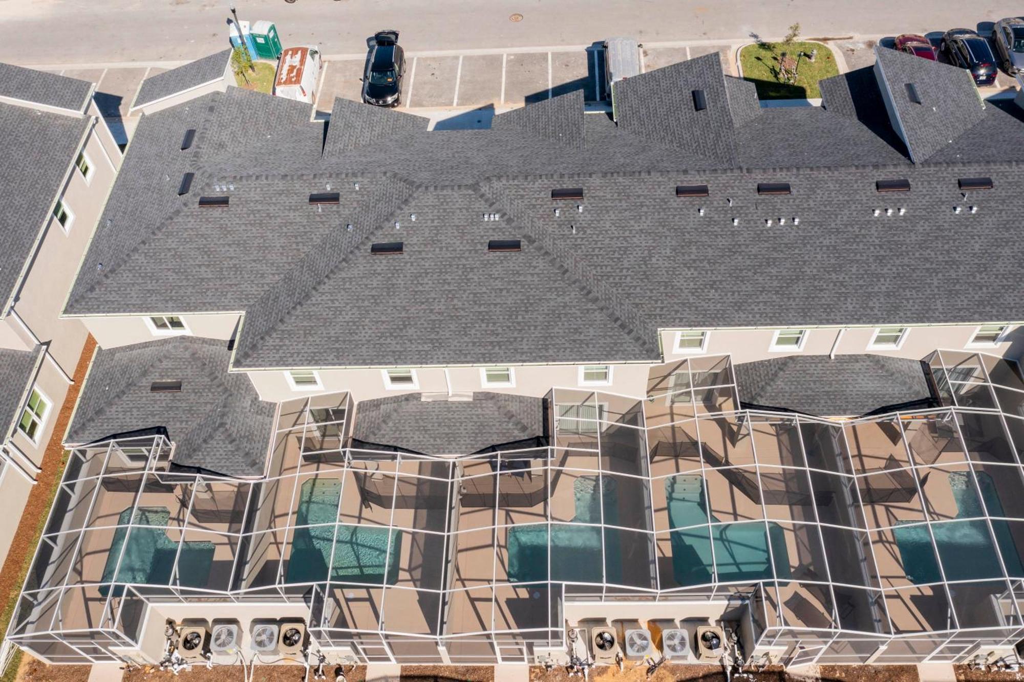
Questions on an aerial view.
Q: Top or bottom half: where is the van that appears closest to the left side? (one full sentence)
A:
The van that appears closest to the left side is in the top half of the image.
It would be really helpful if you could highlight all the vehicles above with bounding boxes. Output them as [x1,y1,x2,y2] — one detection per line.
[992,19,1024,74]
[940,29,1002,90]
[896,37,949,66]
[274,46,324,106]
[361,26,406,109]
[602,43,644,111]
